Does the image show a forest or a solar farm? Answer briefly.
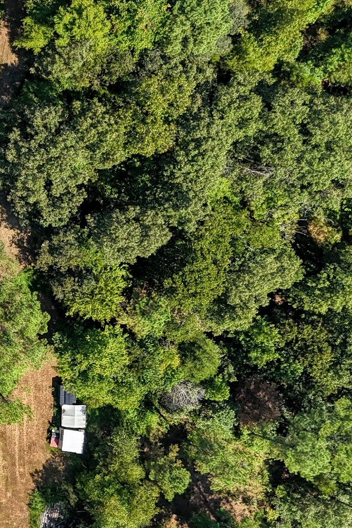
forest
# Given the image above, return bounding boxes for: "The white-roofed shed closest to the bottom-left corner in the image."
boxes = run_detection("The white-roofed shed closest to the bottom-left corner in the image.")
[56,426,85,455]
